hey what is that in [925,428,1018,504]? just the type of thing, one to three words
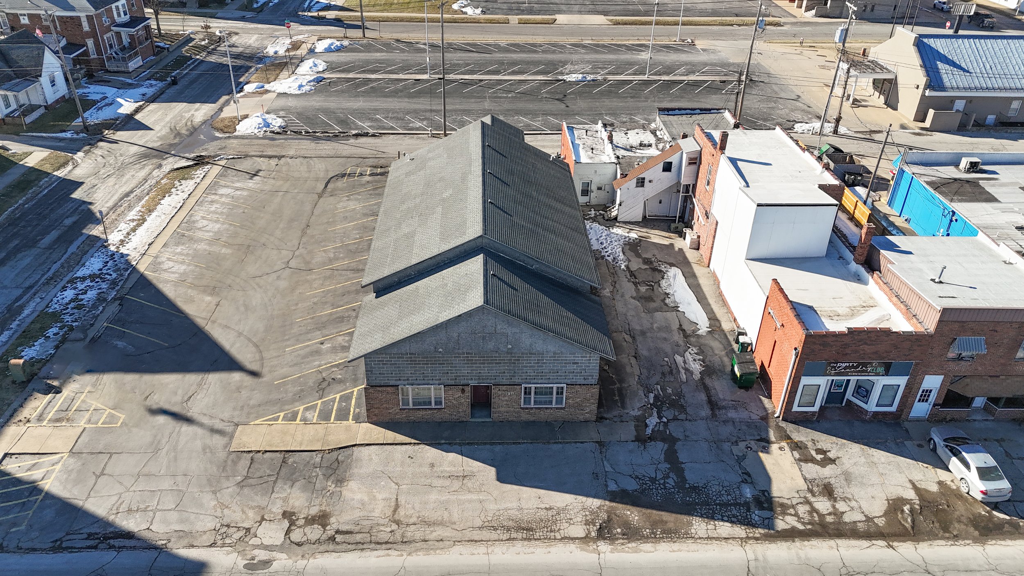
car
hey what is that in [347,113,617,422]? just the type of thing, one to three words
building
